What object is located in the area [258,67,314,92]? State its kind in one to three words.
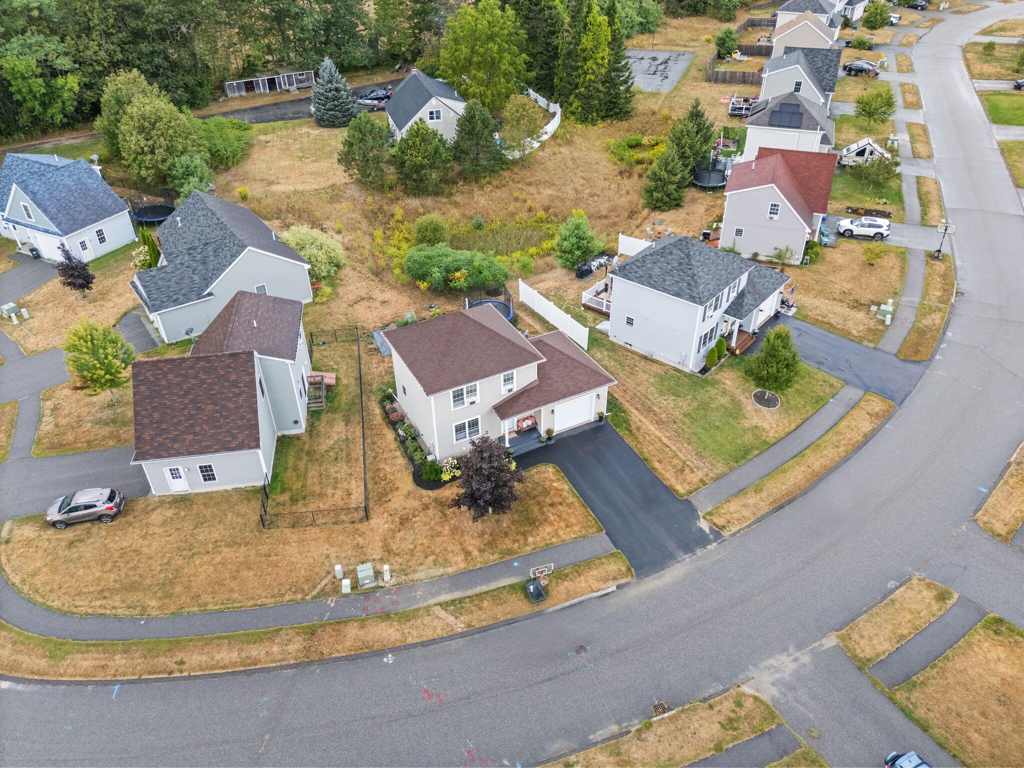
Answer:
shed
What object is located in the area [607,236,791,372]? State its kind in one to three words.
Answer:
house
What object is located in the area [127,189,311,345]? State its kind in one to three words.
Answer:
house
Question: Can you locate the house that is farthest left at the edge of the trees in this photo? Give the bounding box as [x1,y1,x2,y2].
[0,152,136,263]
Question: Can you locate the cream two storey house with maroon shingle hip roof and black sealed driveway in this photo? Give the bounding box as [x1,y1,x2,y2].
[381,303,618,462]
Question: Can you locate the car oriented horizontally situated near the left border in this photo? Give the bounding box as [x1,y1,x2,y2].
[42,482,125,527]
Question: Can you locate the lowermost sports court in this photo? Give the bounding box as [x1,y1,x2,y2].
[625,50,696,93]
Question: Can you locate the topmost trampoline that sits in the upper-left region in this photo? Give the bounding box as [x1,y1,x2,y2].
[126,188,174,228]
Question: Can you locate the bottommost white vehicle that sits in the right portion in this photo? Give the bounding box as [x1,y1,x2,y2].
[837,216,891,240]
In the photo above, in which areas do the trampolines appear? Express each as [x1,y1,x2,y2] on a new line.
[692,159,729,194]
[463,284,512,322]
[126,188,174,228]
